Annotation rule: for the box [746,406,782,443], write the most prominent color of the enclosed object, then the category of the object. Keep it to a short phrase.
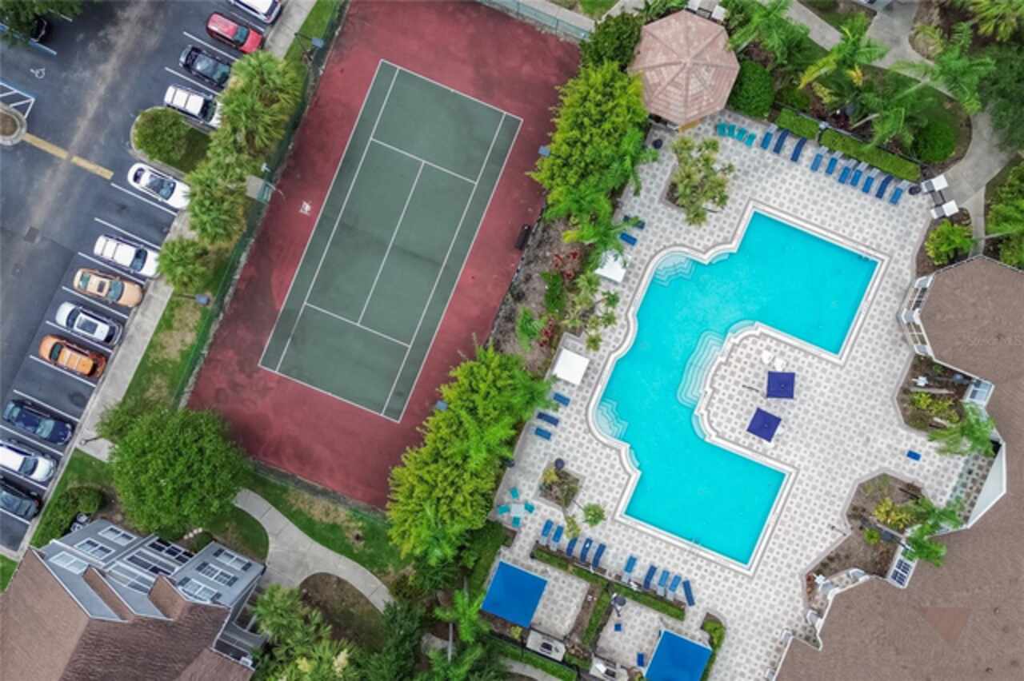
blue umbrella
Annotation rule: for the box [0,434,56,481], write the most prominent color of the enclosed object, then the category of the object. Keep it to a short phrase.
white car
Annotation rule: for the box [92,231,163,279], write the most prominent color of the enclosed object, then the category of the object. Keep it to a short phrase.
white car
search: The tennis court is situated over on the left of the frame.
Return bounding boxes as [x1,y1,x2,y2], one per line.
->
[173,0,602,524]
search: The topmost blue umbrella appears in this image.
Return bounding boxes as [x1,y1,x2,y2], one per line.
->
[767,370,796,399]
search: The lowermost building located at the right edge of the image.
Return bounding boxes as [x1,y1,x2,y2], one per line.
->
[770,254,1024,681]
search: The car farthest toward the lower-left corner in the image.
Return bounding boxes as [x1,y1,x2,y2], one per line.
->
[0,476,41,519]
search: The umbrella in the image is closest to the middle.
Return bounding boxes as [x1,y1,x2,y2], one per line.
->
[552,348,590,386]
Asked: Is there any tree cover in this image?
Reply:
Yes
